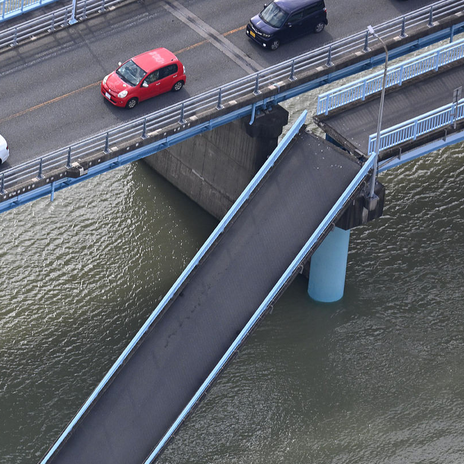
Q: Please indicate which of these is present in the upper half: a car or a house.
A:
car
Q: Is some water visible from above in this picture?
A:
Yes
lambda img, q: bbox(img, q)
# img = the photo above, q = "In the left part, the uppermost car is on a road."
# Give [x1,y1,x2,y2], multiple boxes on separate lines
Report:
[98,46,187,110]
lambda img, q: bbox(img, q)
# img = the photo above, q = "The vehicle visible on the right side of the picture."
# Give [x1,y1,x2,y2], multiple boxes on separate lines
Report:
[245,0,327,51]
